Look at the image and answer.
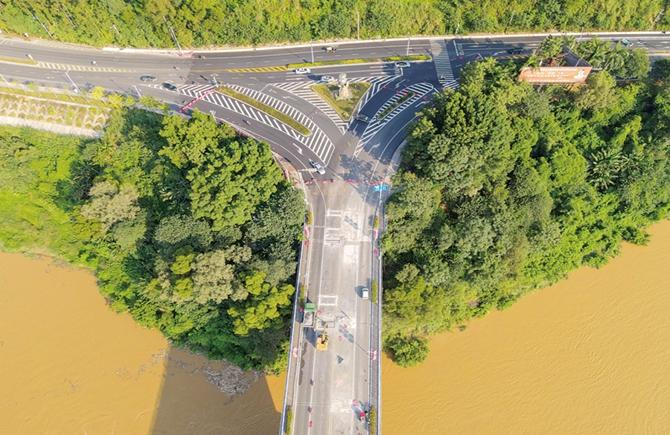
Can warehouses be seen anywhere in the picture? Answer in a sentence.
No, no warehouse is visible in the view.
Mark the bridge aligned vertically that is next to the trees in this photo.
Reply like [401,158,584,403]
[281,189,383,435]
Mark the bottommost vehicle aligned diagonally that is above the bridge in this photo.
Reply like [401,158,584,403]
[309,158,326,174]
